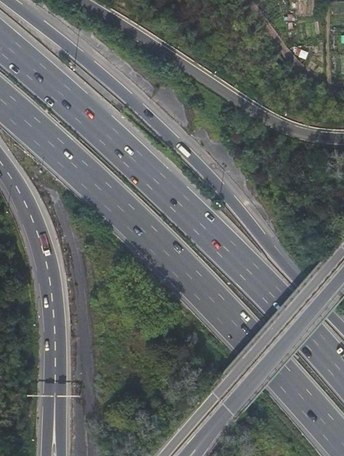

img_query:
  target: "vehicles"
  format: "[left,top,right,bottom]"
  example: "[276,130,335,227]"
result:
[302,346,312,358]
[62,150,74,160]
[114,150,124,159]
[62,100,72,110]
[44,296,48,308]
[9,64,20,74]
[142,108,154,118]
[335,346,344,356]
[124,146,134,156]
[272,302,280,310]
[44,96,54,106]
[130,176,140,186]
[168,198,178,207]
[211,240,222,250]
[39,232,52,257]
[204,212,215,222]
[240,323,250,334]
[172,242,183,252]
[307,410,318,421]
[86,110,96,119]
[34,72,44,82]
[44,340,50,350]
[240,312,250,322]
[176,143,193,160]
